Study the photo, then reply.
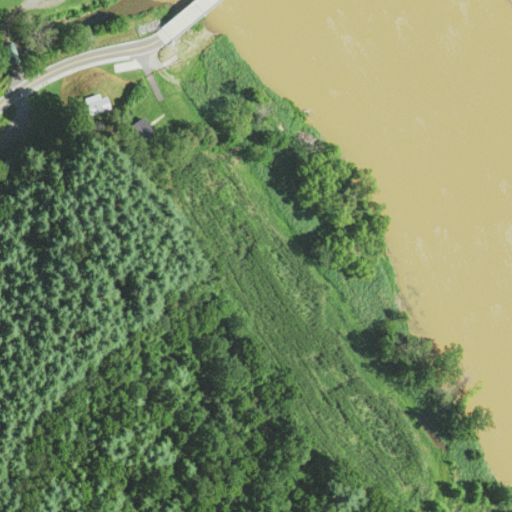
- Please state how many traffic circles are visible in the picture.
0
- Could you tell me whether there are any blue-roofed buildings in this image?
No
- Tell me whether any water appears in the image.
Yes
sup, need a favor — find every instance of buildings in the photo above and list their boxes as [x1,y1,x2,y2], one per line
[134,116,154,136]
[82,93,112,118]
